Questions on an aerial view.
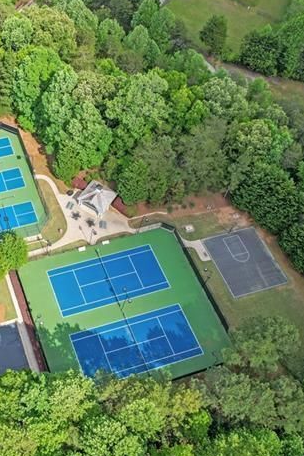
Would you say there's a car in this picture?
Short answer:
No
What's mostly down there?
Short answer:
trees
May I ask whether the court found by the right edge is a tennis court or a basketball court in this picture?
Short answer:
basketball court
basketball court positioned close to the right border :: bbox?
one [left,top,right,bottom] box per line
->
[203,227,292,299]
